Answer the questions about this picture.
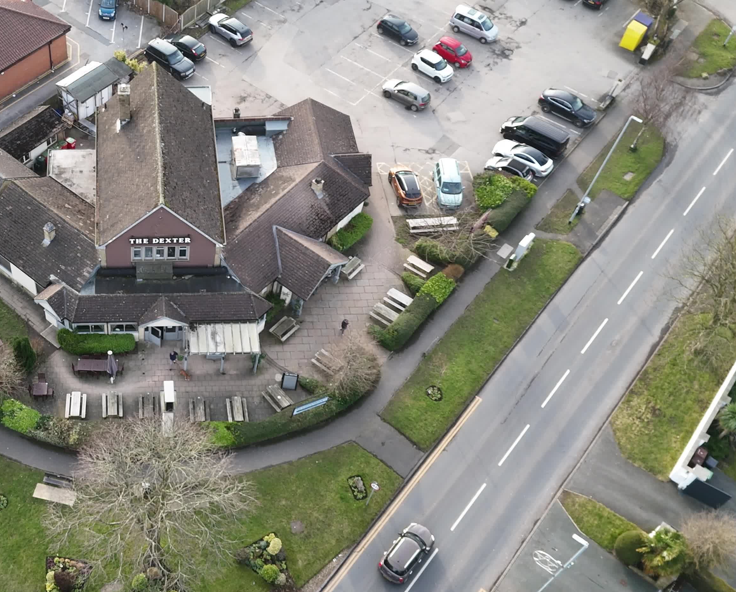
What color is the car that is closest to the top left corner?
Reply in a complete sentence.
The car that is closest to the top left corner looks blue in the image.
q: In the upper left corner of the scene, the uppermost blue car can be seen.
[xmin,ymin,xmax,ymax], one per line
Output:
[98,0,119,21]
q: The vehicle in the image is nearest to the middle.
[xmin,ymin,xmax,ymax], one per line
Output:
[386,164,423,208]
